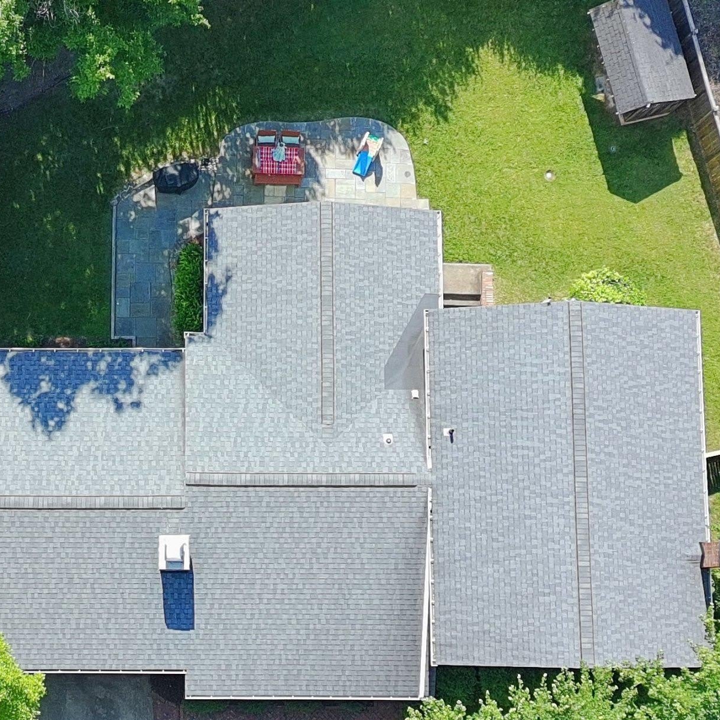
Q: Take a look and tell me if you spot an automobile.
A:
No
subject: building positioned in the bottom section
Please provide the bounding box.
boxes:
[0,201,720,703]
